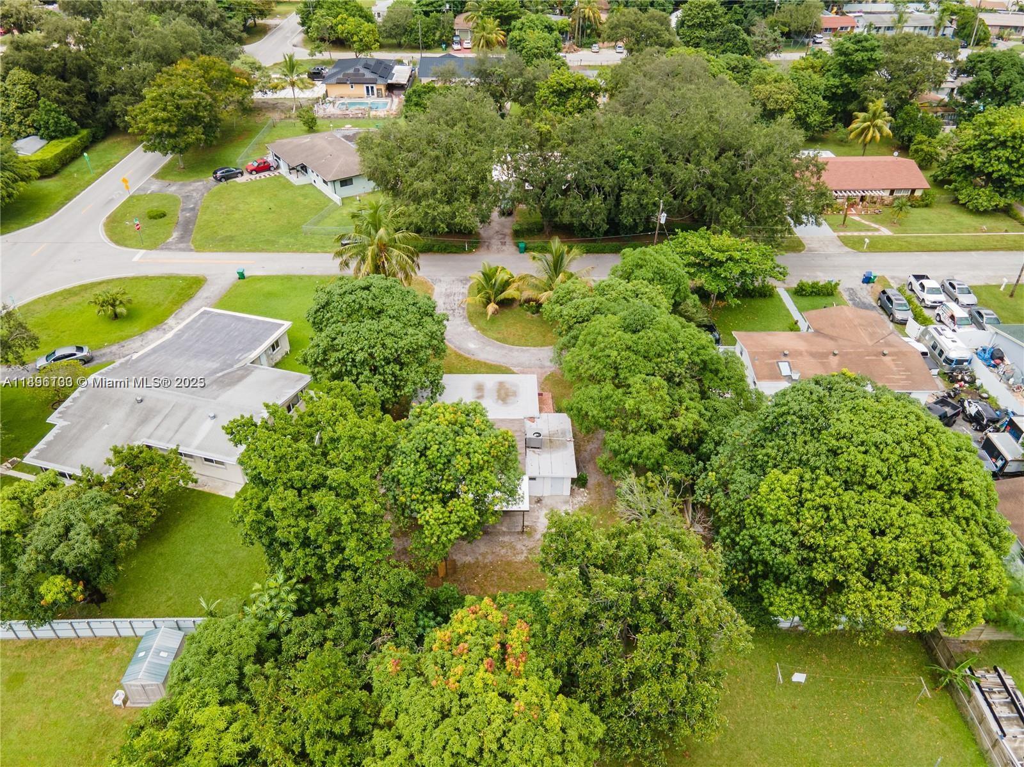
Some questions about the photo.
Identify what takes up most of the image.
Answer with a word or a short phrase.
trees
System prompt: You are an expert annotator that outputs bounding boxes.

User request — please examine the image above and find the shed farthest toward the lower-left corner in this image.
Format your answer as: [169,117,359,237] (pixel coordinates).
[119,626,192,712]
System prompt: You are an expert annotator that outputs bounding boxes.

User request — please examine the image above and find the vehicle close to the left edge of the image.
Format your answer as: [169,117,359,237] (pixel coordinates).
[28,345,96,372]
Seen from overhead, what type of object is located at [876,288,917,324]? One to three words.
car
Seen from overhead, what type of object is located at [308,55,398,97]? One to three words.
house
